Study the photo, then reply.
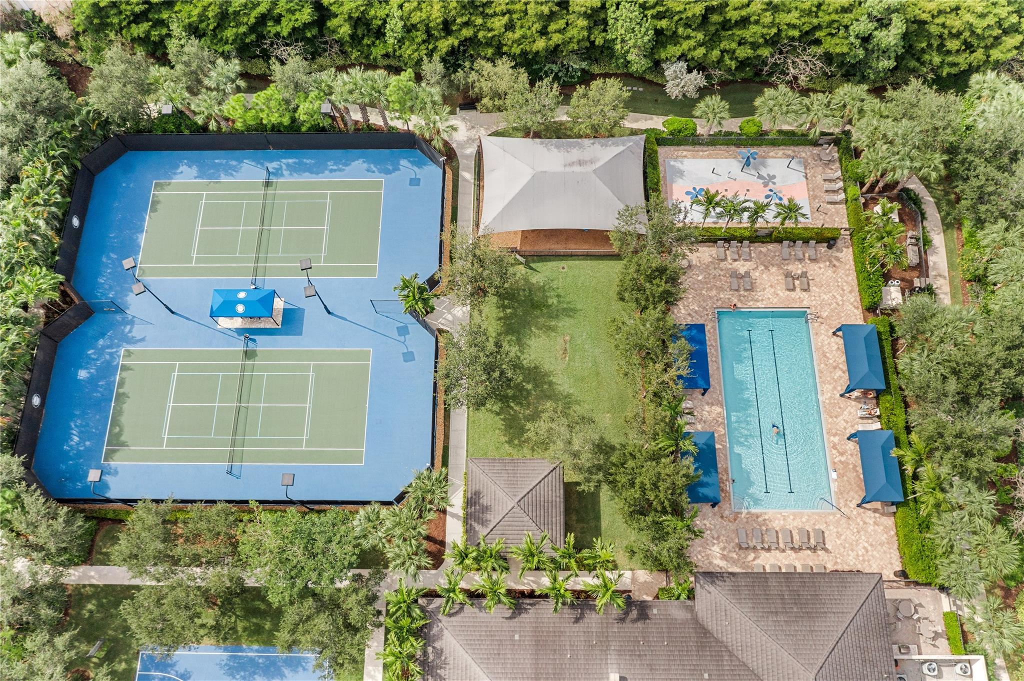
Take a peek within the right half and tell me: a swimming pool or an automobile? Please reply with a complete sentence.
You can see a swimming pool within the right half.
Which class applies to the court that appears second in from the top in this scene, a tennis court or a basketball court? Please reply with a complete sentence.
It looks like the court that appears second in from the top is a tennis court.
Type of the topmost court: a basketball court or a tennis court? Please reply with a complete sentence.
Specifically, the topmost court is a tennis court.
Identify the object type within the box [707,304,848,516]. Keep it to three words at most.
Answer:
swimming pool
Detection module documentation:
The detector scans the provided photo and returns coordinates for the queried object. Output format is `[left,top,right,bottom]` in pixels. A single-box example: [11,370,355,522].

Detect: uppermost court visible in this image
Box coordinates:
[136,179,384,278]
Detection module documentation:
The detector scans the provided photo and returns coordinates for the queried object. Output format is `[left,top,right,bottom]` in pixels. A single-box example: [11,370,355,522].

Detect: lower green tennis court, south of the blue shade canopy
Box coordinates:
[102,349,371,464]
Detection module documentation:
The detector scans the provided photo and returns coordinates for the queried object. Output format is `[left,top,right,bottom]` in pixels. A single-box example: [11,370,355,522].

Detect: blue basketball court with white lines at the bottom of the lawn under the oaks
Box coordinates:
[133,645,340,681]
